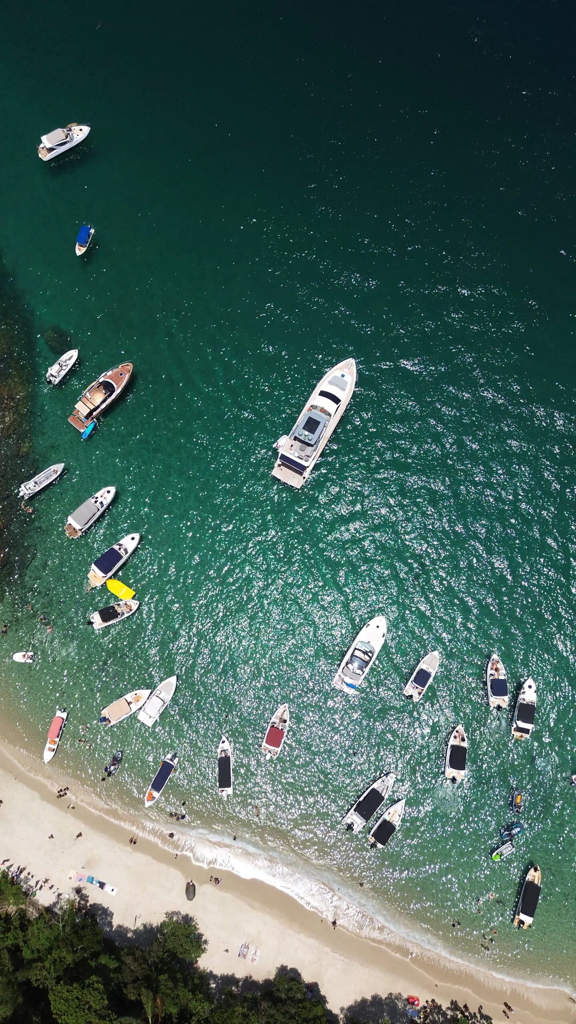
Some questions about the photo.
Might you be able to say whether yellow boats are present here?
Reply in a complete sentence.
Yes, this view includes a yellow boat.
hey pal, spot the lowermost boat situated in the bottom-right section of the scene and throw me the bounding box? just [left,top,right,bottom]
[511,863,541,929]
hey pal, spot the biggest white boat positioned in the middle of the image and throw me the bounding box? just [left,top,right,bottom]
[271,354,358,489]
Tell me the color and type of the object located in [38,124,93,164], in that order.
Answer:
white boat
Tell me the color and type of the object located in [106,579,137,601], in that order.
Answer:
yellow boat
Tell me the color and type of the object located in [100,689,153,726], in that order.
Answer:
white boat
